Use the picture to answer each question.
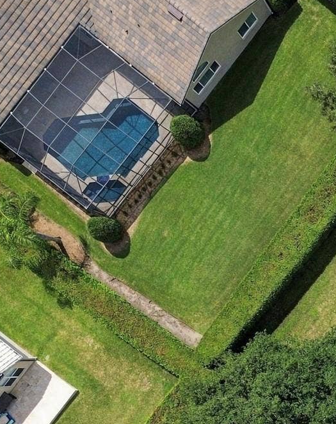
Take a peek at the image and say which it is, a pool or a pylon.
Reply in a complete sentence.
The image shows a pool.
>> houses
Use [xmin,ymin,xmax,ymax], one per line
[0,0,274,127]
[0,333,35,397]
